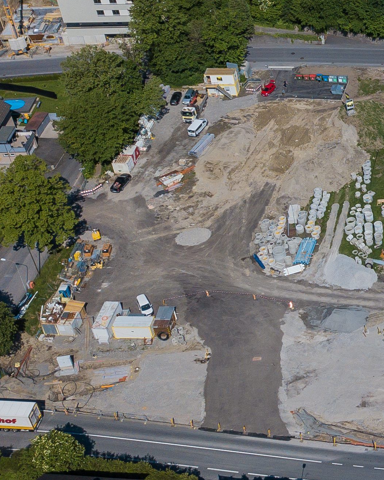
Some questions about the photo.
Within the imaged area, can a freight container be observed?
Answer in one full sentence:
Yes, there's a freight container here.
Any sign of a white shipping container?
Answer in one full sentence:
Yes, the picture does show a white shipping container.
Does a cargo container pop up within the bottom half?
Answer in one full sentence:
Yes, within the bottom half there is a cargo container.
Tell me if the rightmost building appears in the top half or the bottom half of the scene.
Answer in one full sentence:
It is in the top half that the rightmost building appears.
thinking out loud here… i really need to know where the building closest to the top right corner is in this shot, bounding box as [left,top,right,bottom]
[201,70,241,98]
